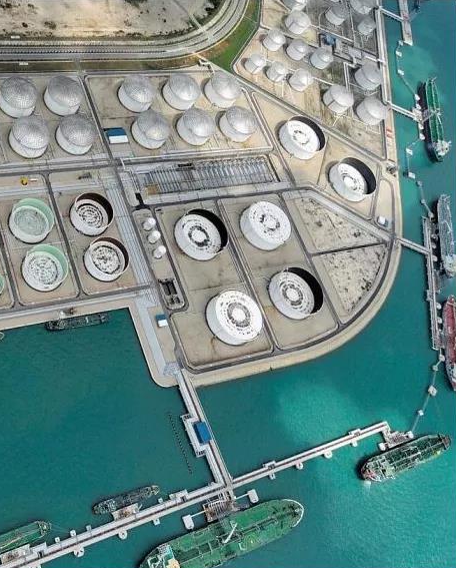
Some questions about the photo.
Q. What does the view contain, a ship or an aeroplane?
ship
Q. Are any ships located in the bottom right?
Yes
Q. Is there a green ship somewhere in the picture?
Yes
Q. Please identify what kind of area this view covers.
industrial area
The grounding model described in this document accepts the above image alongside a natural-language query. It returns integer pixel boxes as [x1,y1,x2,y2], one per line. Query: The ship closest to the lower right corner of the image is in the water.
[356,432,453,485]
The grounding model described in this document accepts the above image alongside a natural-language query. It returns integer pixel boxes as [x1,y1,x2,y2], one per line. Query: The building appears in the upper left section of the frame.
[103,128,128,147]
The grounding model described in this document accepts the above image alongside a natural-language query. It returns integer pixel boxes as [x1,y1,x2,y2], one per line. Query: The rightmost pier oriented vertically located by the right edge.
[420,217,439,349]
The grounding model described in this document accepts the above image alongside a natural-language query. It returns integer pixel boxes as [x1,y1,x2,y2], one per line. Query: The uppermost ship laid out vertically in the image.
[424,77,455,163]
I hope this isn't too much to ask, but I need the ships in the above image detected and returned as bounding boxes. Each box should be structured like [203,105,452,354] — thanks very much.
[440,294,456,393]
[92,485,161,515]
[43,312,110,332]
[129,501,305,568]
[424,77,455,163]
[356,432,453,485]
[0,519,50,555]
[434,192,456,279]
